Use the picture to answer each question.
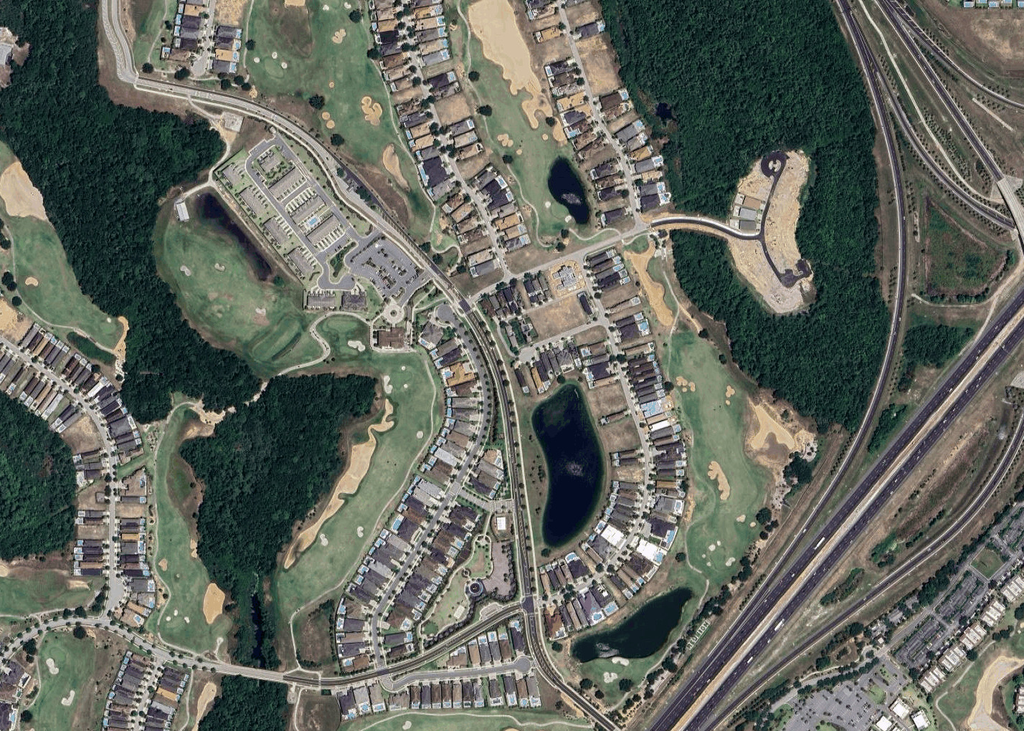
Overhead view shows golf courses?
Yes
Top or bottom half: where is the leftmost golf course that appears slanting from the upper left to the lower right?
top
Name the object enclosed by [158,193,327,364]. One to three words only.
golf course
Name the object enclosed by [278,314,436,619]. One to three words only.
golf course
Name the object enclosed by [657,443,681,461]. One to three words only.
house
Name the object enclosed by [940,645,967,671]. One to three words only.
building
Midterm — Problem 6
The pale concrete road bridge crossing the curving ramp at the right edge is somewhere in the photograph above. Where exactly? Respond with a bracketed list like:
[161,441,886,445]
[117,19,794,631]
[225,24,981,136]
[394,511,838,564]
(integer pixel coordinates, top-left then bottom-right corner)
[997,175,1024,256]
